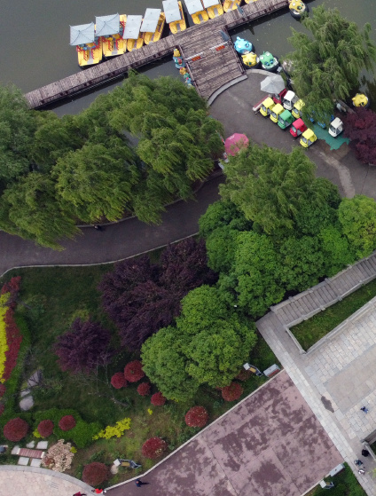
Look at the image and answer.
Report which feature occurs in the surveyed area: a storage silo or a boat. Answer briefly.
boat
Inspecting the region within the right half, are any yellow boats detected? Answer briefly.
Yes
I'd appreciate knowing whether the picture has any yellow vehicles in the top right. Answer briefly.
Yes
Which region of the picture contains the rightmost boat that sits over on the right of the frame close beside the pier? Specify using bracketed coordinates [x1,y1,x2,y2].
[287,1,308,20]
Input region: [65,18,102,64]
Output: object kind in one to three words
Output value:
boat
